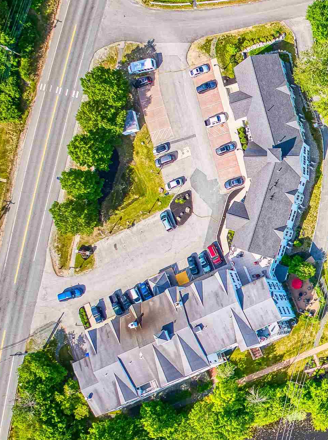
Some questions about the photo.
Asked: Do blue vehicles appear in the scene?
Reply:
Yes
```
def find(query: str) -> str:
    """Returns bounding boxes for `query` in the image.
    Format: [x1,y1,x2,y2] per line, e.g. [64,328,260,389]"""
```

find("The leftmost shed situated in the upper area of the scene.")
[122,108,145,135]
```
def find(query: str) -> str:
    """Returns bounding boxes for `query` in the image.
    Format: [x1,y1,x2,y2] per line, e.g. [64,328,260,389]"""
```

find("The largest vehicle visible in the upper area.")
[128,57,158,75]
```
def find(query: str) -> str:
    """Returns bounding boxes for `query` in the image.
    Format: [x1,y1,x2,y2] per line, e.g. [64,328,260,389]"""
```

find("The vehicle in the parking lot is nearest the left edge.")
[55,286,84,302]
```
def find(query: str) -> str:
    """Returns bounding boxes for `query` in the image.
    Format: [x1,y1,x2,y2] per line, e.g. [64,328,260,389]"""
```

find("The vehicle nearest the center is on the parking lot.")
[160,209,177,232]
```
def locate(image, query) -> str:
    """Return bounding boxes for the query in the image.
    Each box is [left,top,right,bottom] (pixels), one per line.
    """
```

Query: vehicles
[128,285,143,303]
[153,153,178,168]
[138,281,153,302]
[128,57,158,75]
[108,293,125,317]
[185,253,201,277]
[223,175,247,190]
[197,251,213,275]
[89,302,107,324]
[195,79,219,93]
[55,286,84,302]
[189,63,212,77]
[206,241,223,265]
[160,209,177,232]
[202,113,228,127]
[119,293,132,313]
[214,142,238,155]
[132,75,153,88]
[163,175,187,191]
